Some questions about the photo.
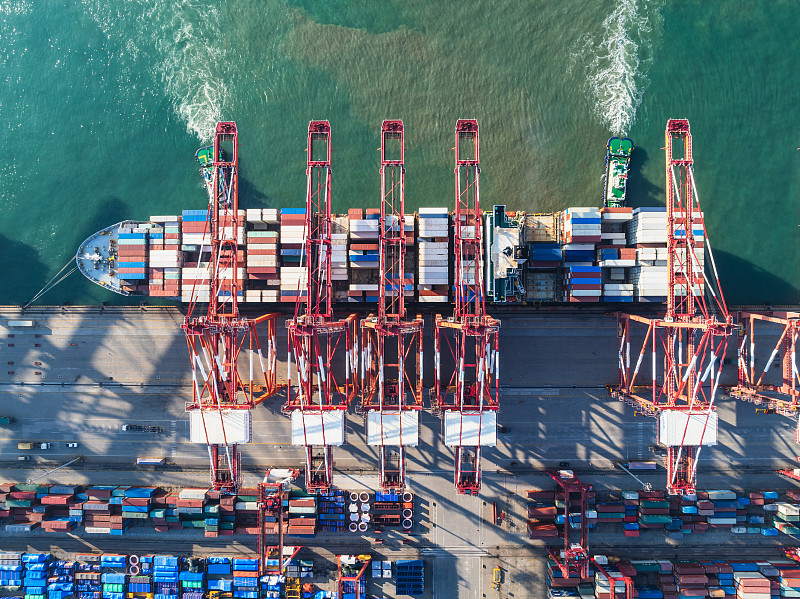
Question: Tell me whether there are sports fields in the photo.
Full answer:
No, no sports field can be seen from above.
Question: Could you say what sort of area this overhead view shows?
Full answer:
This looks like a port.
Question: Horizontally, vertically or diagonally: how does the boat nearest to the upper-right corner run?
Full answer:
What the image shows is the boat nearest to the upper-right corner lying vertically.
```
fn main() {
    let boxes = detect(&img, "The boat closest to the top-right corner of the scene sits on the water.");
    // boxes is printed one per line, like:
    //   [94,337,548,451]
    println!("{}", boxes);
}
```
[601,134,634,208]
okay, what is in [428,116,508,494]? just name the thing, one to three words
container crane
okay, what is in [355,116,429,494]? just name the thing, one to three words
container crane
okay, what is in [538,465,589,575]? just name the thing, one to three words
crane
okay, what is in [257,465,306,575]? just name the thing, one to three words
crane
